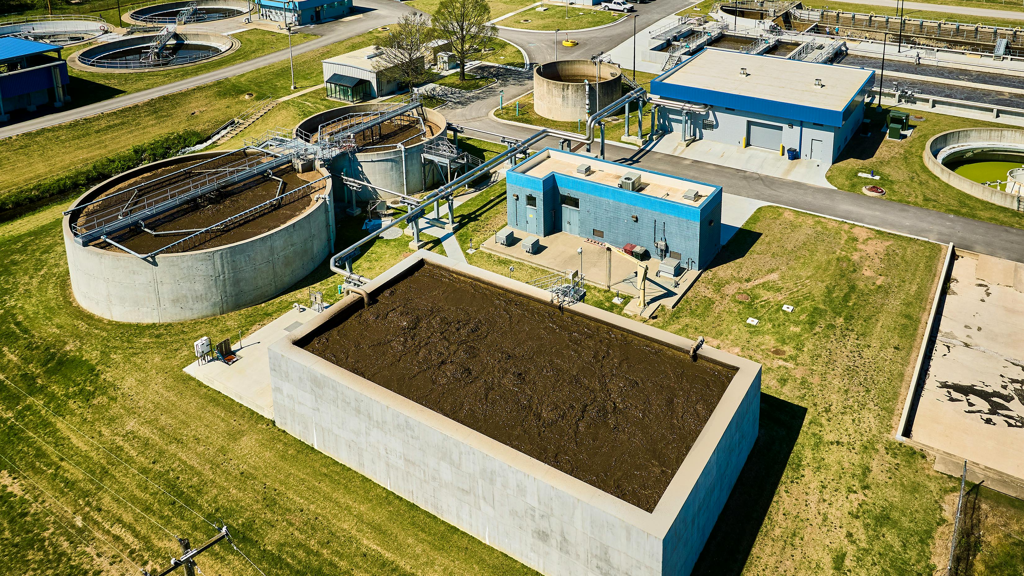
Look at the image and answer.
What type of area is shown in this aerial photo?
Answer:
industrial area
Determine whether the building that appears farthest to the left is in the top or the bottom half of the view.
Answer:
top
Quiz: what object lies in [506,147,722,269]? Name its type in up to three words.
building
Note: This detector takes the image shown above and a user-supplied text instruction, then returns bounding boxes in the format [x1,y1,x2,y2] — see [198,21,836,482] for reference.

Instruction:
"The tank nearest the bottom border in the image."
[268,249,762,576]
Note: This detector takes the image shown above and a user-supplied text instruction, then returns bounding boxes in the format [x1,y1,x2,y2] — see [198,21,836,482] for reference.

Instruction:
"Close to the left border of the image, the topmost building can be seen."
[0,37,64,120]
